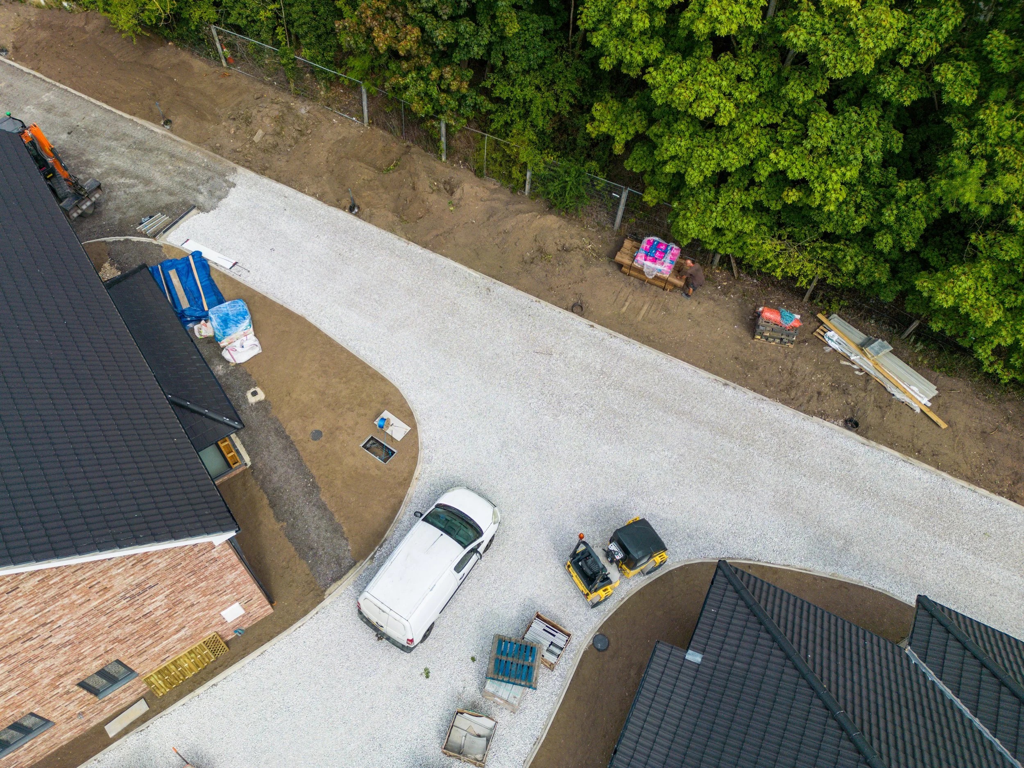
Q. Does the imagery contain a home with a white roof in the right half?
No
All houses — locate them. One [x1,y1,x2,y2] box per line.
[601,554,1024,768]
[0,136,273,768]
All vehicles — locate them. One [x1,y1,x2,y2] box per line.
[0,108,108,220]
[565,519,673,601]
[354,487,499,653]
